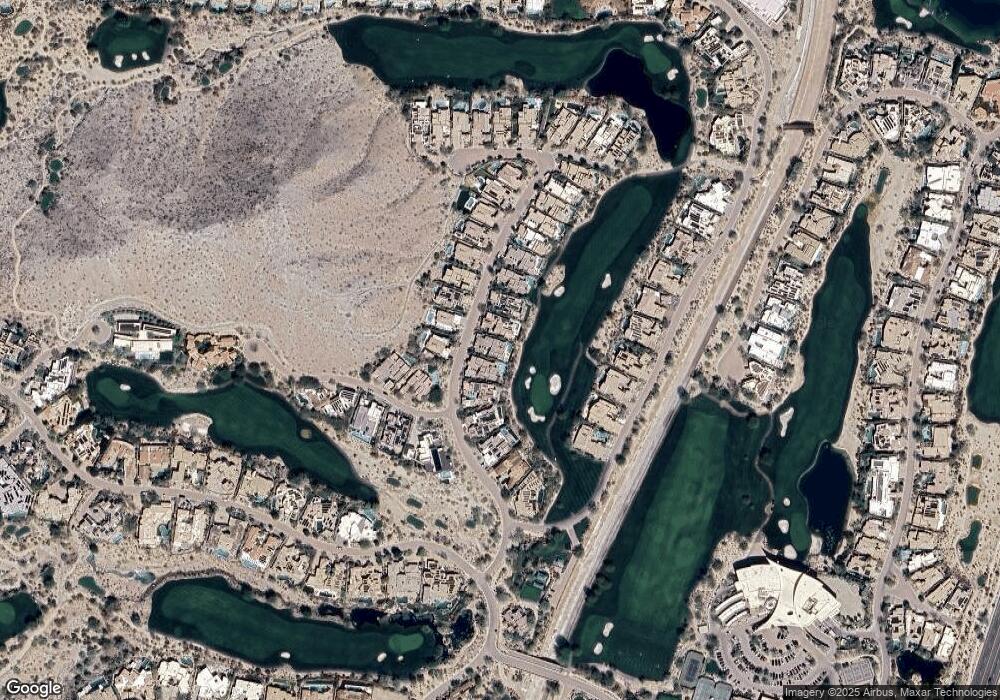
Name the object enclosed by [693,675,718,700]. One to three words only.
tennis court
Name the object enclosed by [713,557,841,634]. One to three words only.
building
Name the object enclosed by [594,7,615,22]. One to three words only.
swimming pool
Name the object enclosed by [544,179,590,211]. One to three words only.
house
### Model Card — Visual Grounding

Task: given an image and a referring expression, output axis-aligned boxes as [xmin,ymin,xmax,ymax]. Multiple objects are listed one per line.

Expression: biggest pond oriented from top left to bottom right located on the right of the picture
[587,48,690,162]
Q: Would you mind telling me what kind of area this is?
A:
residential area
